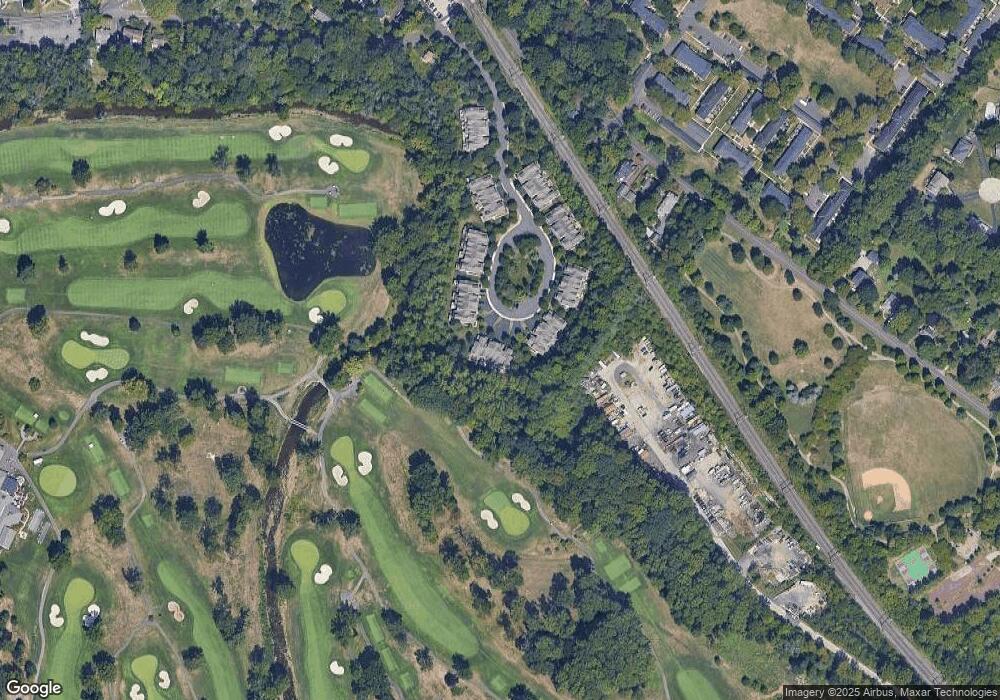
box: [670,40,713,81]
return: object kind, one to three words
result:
building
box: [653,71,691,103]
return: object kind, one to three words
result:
building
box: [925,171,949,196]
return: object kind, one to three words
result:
house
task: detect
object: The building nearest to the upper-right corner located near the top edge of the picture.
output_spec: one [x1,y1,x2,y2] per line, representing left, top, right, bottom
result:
[953,0,985,40]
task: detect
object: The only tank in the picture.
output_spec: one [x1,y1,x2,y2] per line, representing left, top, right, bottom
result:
[979,178,1000,203]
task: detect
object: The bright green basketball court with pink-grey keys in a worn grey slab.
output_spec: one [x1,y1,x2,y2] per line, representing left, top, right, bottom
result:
[896,547,936,586]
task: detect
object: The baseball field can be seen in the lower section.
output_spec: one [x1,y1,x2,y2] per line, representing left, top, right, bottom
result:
[843,361,983,526]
